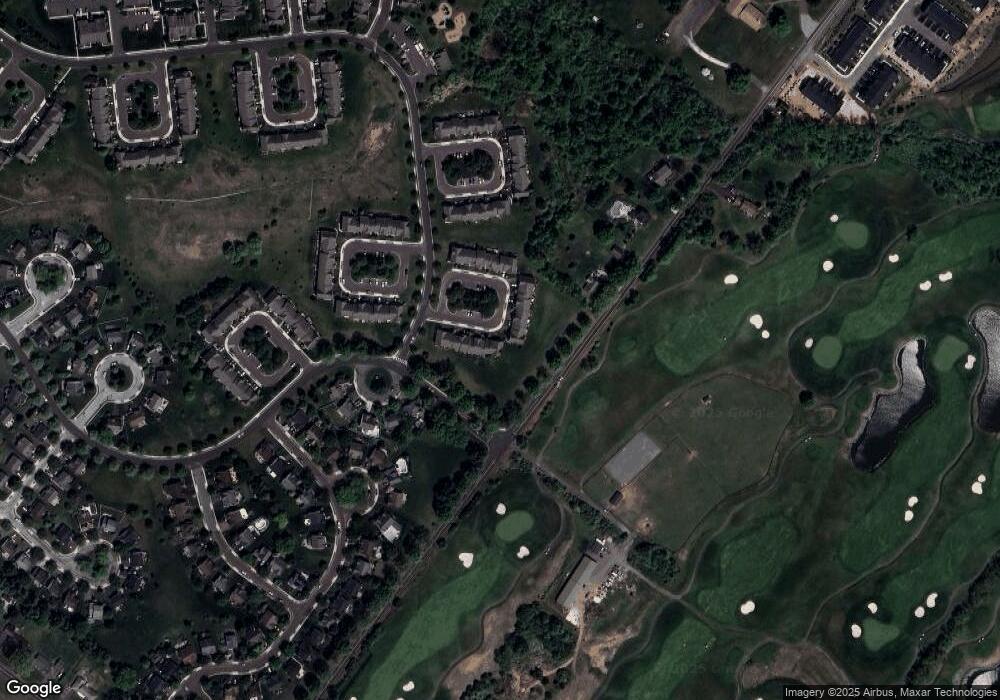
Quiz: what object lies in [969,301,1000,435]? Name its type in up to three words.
pond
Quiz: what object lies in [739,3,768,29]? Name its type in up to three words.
barn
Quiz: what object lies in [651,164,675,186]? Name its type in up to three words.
house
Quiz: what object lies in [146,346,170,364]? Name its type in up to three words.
house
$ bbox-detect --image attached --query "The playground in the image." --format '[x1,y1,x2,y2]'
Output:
[432,2,466,43]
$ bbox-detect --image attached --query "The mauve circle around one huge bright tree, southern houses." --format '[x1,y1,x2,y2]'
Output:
[325,466,375,516]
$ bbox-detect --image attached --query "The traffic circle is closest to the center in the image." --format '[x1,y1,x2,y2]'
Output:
[355,357,401,403]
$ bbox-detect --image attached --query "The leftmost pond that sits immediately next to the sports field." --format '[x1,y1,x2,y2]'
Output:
[847,336,937,474]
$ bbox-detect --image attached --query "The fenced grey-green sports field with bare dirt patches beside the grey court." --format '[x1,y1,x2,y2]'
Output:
[597,373,797,558]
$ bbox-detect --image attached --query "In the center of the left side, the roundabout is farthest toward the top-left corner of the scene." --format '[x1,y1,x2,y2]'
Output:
[27,255,72,300]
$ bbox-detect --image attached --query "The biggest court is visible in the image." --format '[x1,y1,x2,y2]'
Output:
[605,432,660,483]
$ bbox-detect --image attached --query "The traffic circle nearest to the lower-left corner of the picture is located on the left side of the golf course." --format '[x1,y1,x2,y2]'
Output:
[75,543,115,583]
